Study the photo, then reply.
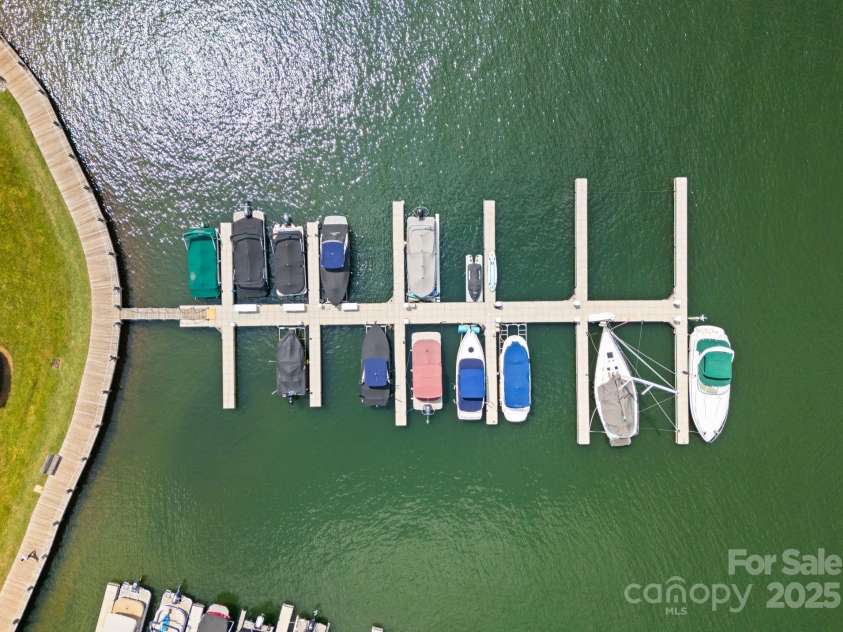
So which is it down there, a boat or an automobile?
boat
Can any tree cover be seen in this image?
No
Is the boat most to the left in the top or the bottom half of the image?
bottom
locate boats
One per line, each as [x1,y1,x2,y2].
[688,323,734,444]
[488,250,497,292]
[409,332,443,422]
[405,207,438,301]
[590,324,676,450]
[151,587,195,632]
[242,611,275,632]
[196,597,232,632]
[453,328,487,421]
[272,218,308,297]
[277,328,307,408]
[109,578,157,632]
[320,216,352,308]
[359,323,394,407]
[292,612,330,632]
[181,221,222,300]
[226,201,268,299]
[498,335,532,423]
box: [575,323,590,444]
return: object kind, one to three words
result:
pier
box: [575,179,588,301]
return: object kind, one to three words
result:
pier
